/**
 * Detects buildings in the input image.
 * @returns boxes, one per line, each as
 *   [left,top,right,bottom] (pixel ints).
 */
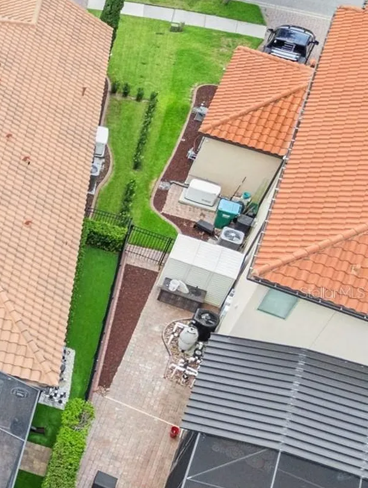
[0,0,117,422]
[186,1,368,405]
